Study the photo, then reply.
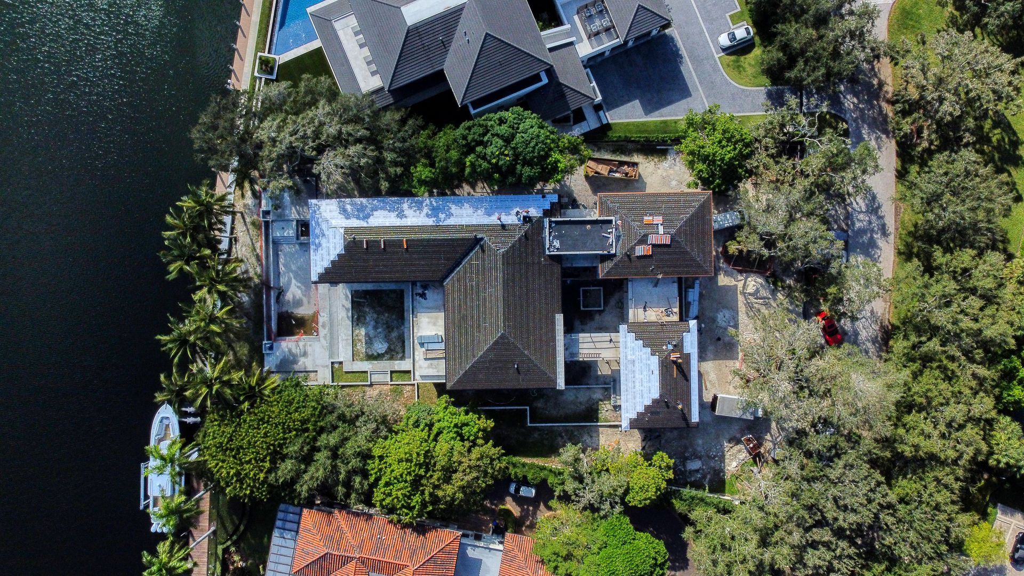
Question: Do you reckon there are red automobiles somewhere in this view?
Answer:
Yes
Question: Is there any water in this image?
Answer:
Yes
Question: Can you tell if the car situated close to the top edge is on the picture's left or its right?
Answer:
right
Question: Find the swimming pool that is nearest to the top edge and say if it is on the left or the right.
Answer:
left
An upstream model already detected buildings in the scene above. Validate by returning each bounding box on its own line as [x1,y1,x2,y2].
[309,189,716,431]
[309,0,671,134]
[291,499,542,576]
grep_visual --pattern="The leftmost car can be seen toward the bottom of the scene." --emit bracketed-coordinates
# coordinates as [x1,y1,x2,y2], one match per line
[507,480,537,497]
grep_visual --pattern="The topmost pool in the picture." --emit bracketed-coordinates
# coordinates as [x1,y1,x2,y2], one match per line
[271,0,332,66]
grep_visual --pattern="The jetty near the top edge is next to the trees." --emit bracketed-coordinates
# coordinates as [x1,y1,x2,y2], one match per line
[227,0,255,89]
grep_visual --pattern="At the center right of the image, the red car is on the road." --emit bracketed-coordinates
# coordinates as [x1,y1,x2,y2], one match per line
[815,310,844,348]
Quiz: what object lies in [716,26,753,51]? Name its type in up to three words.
car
